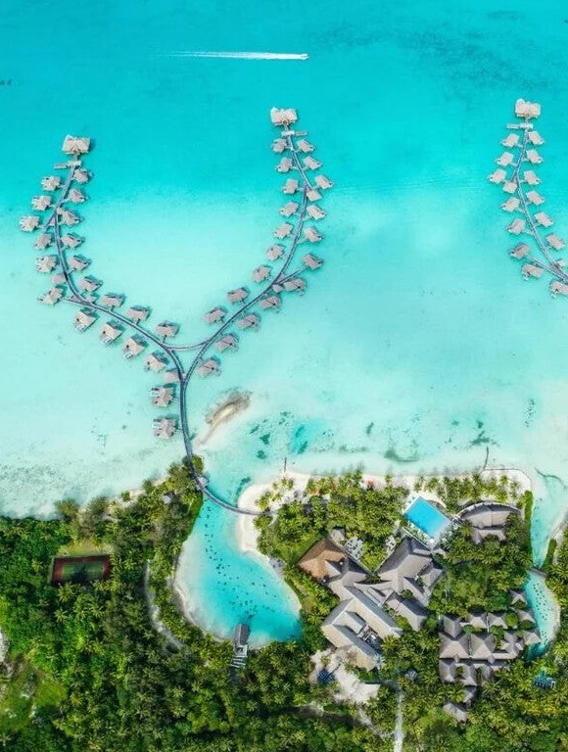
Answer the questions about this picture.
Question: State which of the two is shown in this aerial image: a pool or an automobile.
pool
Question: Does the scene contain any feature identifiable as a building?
Yes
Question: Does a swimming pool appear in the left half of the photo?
No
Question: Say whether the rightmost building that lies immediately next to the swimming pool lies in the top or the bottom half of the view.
bottom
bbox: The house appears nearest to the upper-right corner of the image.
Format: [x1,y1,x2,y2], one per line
[513,97,541,120]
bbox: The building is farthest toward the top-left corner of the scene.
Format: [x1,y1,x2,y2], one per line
[62,133,91,155]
